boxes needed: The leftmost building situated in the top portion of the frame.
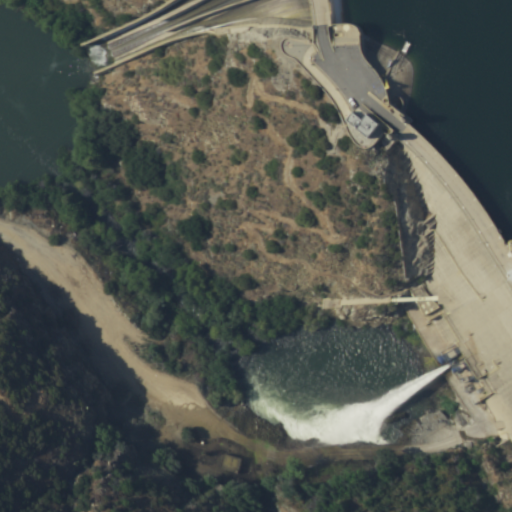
[346,113,379,138]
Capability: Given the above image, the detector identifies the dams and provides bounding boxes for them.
[386,116,512,392]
